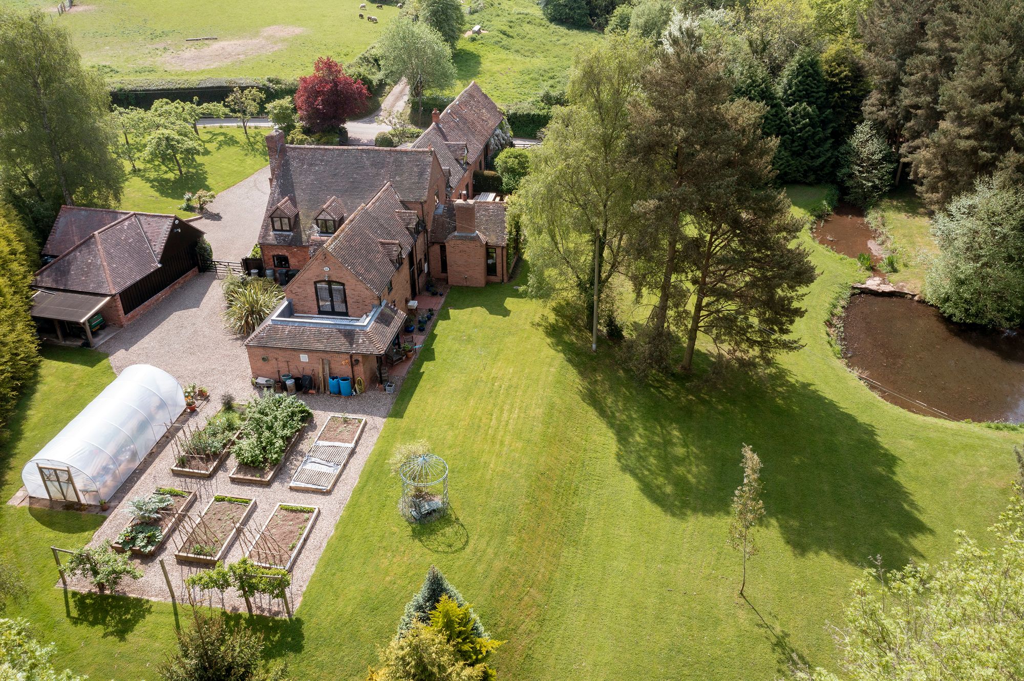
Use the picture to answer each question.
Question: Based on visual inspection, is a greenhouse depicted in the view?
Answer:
Yes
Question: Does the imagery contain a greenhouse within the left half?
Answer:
Yes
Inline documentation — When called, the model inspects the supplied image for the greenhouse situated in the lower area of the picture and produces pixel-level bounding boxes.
[20,370,184,503]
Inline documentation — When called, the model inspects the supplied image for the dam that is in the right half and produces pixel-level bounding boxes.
[851,276,921,301]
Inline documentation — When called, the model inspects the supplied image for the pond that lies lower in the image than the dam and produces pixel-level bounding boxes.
[841,296,1024,422]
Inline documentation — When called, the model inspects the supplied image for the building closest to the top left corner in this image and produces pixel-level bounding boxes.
[29,203,207,348]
